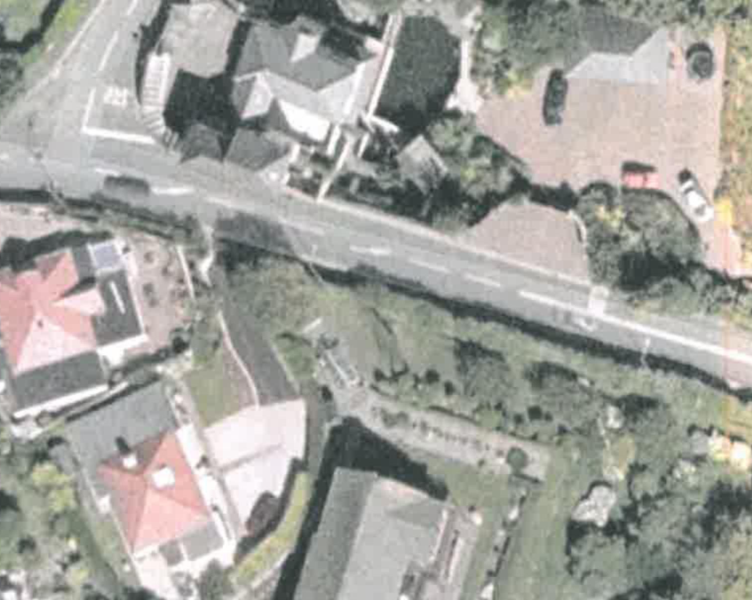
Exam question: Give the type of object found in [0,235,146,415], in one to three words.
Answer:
house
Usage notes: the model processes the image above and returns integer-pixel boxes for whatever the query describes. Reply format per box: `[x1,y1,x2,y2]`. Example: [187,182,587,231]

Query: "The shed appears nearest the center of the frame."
[399,141,448,197]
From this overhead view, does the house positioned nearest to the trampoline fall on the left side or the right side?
right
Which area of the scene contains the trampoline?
top right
